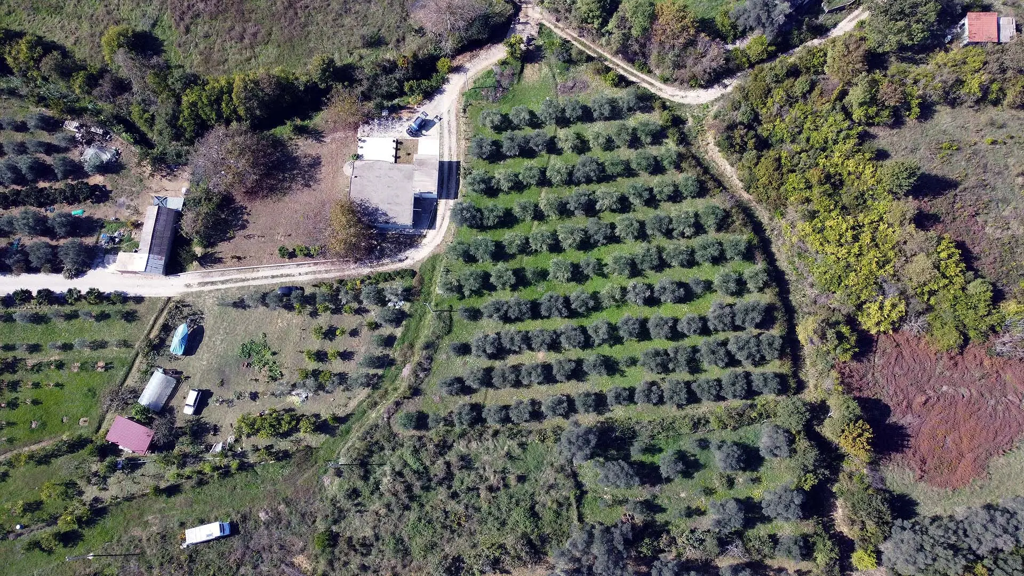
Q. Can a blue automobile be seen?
Yes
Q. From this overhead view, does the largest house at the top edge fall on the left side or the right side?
right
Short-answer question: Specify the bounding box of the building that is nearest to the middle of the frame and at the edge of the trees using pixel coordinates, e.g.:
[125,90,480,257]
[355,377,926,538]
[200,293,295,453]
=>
[342,155,440,230]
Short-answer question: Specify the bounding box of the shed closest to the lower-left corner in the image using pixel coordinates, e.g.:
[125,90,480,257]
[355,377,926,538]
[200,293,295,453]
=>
[106,415,160,455]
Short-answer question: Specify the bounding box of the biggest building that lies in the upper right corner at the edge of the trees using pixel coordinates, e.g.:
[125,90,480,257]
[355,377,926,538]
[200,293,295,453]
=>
[952,12,998,50]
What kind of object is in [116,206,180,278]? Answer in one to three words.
barn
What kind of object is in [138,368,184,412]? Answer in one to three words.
shed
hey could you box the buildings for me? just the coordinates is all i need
[342,155,440,230]
[106,415,160,455]
[116,206,180,278]
[138,368,184,412]
[952,12,998,50]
